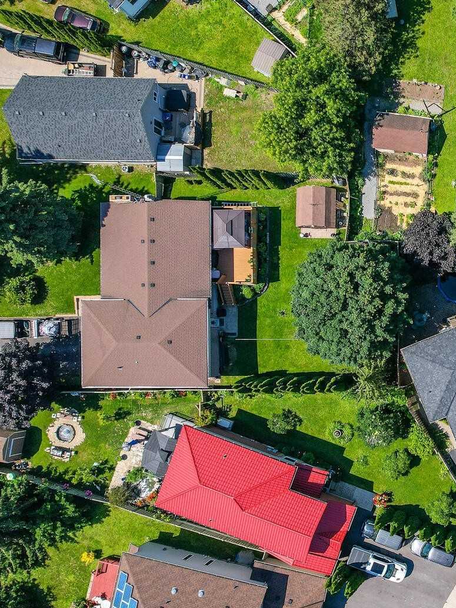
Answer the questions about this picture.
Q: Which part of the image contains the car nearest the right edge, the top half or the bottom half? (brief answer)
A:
bottom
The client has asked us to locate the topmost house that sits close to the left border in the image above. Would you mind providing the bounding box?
[3,75,170,169]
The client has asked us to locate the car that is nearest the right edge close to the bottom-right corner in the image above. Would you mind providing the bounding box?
[409,537,456,570]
